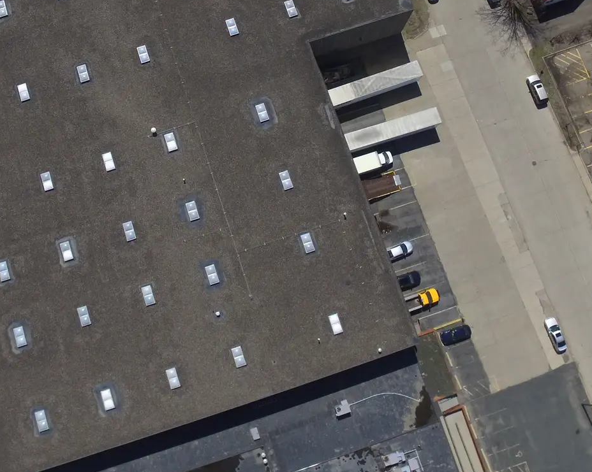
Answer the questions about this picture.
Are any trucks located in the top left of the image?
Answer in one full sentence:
No, no truck can be made out in the top left of the image.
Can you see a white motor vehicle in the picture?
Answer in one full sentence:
Yes, the picture does show a white motor vehicle.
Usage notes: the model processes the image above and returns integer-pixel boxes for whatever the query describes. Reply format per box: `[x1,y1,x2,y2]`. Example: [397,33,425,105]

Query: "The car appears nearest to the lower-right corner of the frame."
[544,317,568,354]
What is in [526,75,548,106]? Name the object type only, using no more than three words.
car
